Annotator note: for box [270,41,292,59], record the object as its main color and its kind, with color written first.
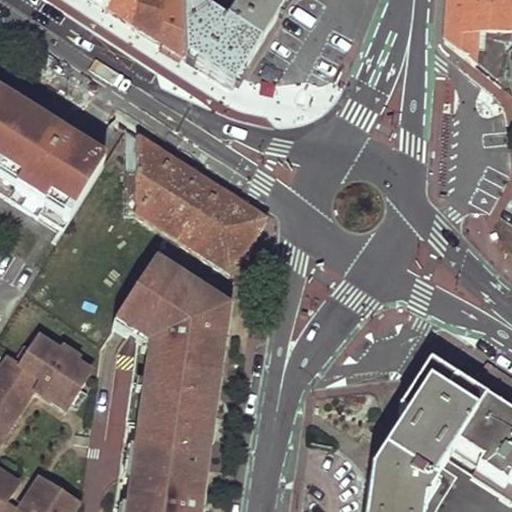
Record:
white car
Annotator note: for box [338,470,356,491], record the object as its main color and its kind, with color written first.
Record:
white car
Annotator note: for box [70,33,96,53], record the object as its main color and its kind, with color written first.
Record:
white vehicle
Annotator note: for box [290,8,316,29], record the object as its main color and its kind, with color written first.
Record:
white vehicle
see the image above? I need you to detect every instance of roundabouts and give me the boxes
[304,154,412,262]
